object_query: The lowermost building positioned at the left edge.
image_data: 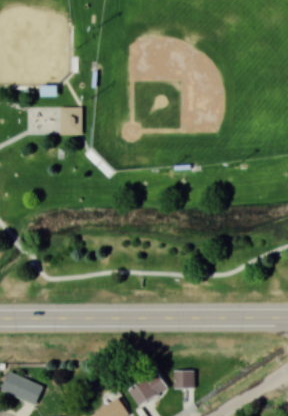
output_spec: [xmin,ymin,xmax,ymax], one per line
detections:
[2,372,44,405]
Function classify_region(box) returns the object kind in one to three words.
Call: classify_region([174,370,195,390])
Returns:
building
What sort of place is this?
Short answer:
sports ground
